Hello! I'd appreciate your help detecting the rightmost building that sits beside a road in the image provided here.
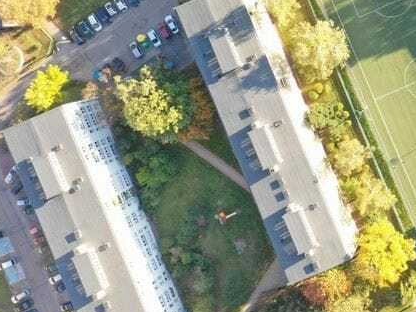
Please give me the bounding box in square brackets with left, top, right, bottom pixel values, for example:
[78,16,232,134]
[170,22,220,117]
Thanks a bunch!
[173,0,357,284]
